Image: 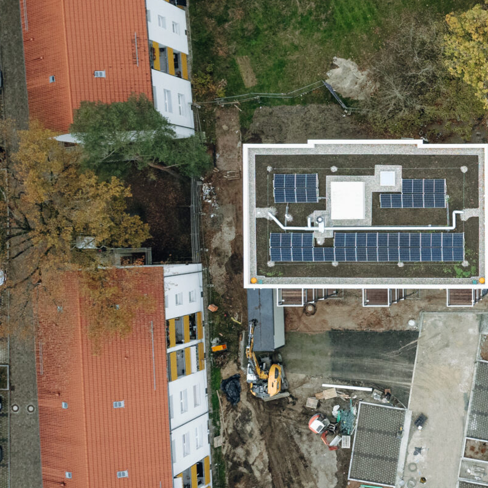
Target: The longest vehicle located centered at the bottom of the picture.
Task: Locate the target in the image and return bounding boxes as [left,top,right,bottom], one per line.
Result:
[237,320,287,398]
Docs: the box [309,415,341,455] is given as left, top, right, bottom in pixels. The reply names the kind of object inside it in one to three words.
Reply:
work vehicle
